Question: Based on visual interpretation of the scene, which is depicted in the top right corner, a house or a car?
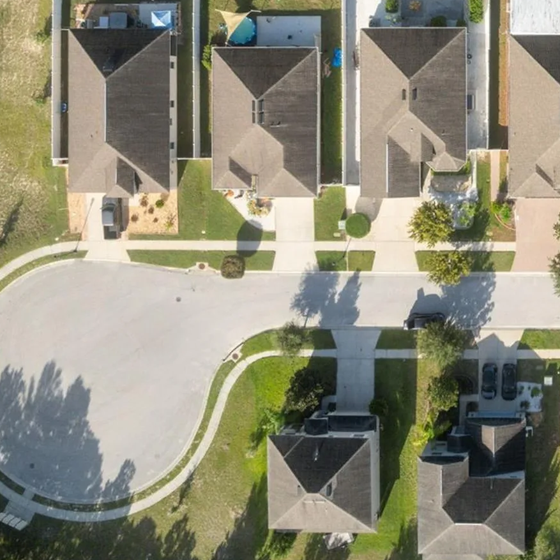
house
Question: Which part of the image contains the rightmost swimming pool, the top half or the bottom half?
top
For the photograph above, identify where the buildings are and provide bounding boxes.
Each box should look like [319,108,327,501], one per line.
[509,0,560,199]
[267,409,381,534]
[67,29,181,200]
[360,28,467,199]
[212,48,323,197]
[418,413,526,560]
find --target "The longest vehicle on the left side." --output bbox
[96,199,117,242]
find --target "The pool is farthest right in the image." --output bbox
[230,17,260,47]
